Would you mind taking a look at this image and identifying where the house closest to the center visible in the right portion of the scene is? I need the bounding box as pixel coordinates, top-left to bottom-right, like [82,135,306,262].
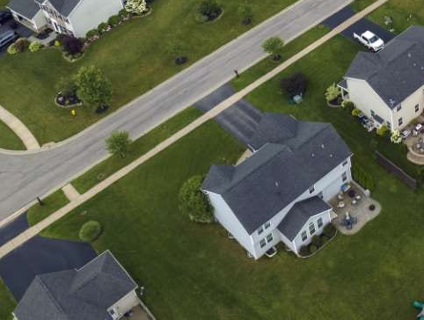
[196,102,355,260]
